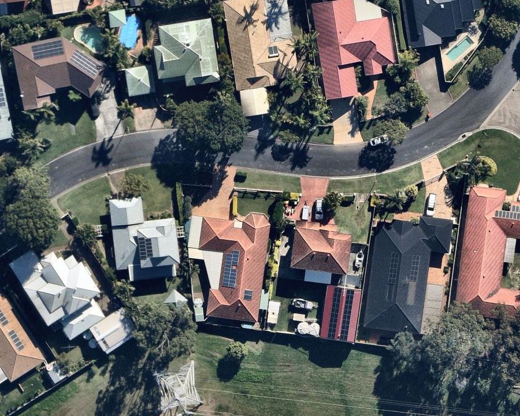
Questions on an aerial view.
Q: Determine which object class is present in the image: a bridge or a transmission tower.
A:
transmission tower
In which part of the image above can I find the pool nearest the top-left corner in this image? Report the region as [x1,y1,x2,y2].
[74,24,105,53]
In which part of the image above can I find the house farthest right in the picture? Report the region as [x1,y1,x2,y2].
[454,183,520,322]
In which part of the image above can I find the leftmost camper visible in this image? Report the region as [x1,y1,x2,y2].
[265,300,280,325]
